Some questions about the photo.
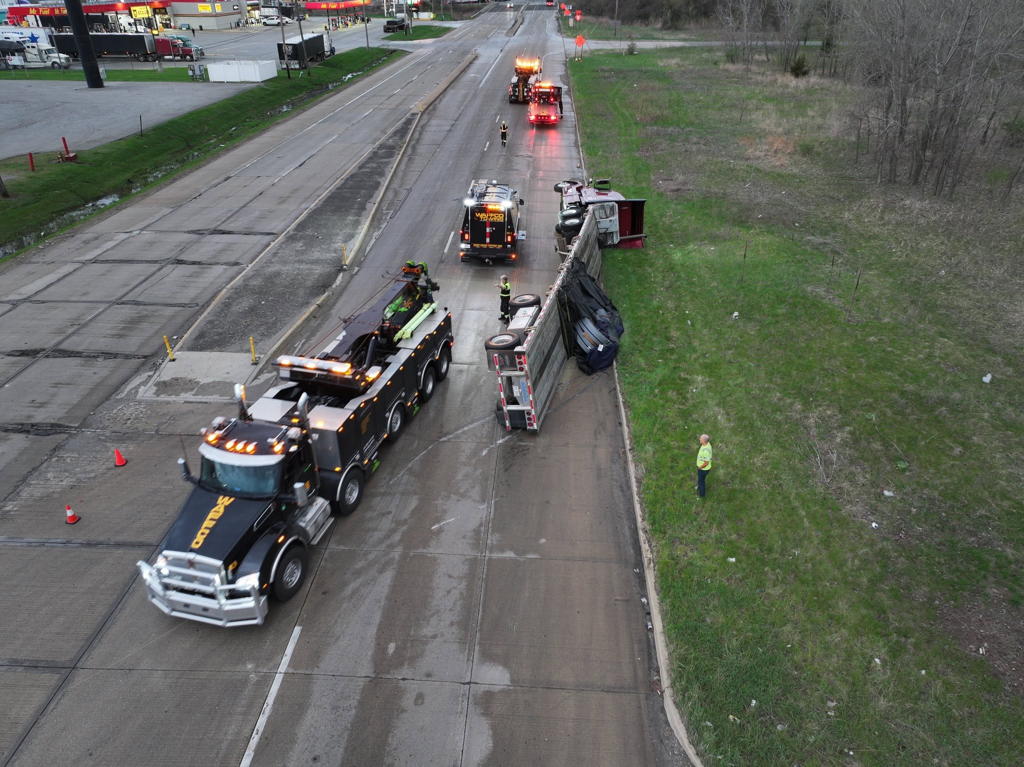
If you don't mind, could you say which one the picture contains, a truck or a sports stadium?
truck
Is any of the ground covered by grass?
Yes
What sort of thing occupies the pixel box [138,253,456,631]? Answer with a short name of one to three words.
truck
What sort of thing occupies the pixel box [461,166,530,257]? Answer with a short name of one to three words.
truck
